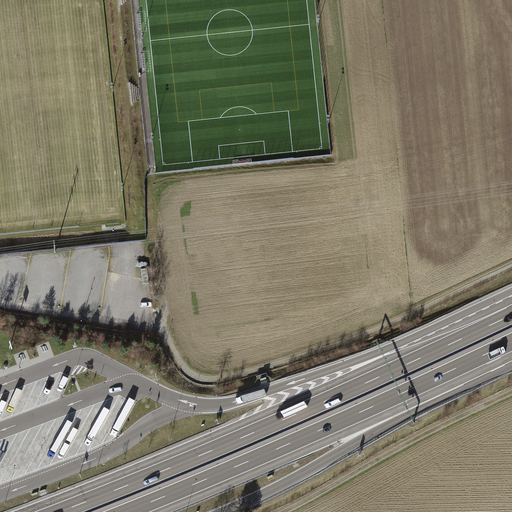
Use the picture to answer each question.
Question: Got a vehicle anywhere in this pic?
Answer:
Yes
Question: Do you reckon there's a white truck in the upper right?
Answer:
No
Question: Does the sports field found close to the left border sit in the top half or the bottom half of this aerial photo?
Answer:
top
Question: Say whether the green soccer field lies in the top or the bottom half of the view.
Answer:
top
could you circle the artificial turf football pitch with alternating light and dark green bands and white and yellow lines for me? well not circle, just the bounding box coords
[138,0,330,170]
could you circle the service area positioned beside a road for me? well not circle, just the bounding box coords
[0,342,304,502]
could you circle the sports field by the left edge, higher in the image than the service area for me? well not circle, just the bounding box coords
[0,0,126,235]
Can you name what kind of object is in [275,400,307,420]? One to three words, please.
vehicle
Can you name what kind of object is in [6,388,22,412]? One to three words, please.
vehicle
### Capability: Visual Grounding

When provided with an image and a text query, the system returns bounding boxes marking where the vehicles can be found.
[109,386,122,392]
[140,302,152,307]
[56,376,69,392]
[406,388,417,396]
[108,398,134,438]
[83,407,109,446]
[57,427,78,460]
[275,400,307,420]
[504,314,512,321]
[6,388,22,412]
[234,389,266,406]
[432,374,444,382]
[42,382,54,396]
[322,424,332,432]
[46,420,72,458]
[324,398,341,408]
[488,346,506,358]
[143,474,158,484]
